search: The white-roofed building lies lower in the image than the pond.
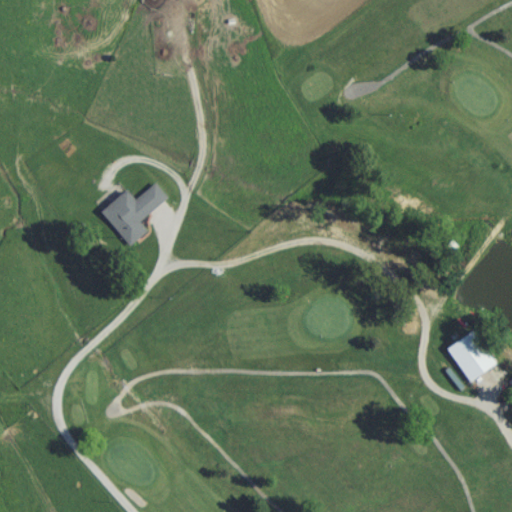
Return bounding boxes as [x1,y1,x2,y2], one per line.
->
[448,328,500,382]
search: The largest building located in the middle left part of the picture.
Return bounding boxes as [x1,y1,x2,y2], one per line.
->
[102,182,168,246]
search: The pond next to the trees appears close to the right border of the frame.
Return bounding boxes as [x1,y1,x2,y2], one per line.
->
[460,242,512,326]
